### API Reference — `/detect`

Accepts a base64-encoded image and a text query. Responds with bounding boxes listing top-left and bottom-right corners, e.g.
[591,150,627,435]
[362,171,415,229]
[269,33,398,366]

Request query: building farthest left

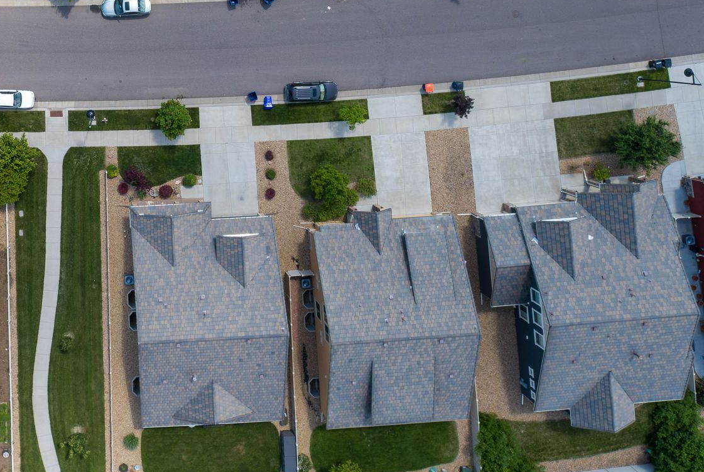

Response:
[125,199,286,431]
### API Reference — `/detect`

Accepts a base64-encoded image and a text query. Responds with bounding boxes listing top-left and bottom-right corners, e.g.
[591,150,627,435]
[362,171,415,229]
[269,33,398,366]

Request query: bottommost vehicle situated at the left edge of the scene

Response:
[0,88,35,112]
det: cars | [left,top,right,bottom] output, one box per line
[0,88,35,112]
[101,0,152,20]
[283,79,337,104]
